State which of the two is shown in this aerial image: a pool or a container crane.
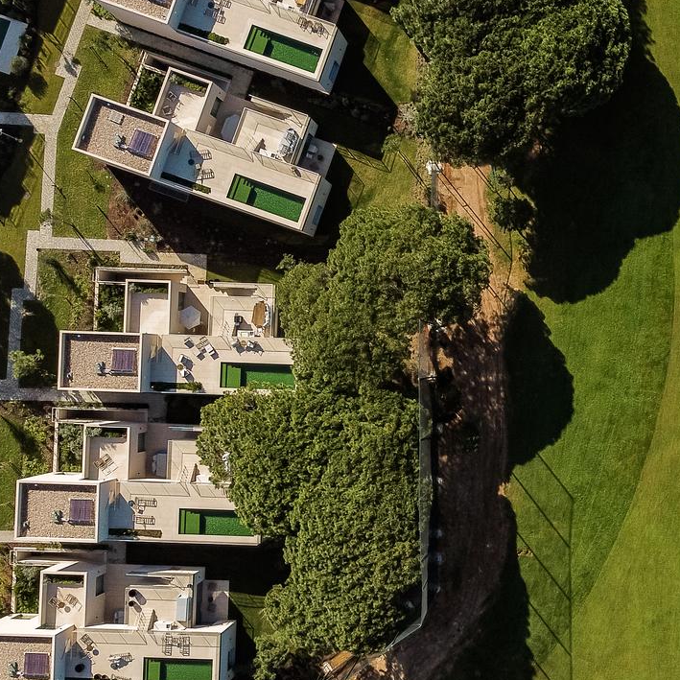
pool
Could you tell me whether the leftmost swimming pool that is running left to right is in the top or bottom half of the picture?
bottom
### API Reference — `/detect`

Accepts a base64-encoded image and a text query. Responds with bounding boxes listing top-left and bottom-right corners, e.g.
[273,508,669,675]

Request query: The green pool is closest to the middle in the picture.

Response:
[220,362,293,389]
